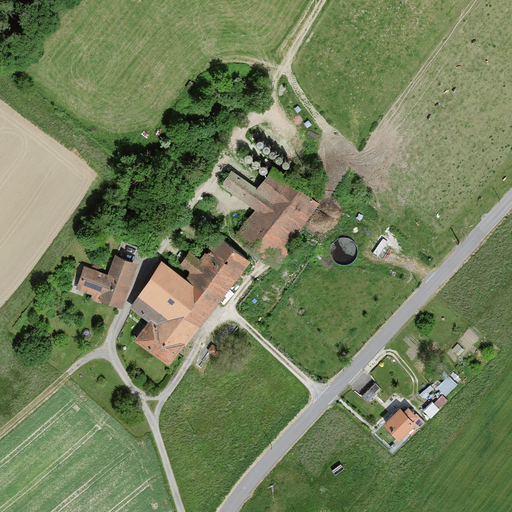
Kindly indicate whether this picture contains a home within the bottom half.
Yes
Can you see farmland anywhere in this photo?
Yes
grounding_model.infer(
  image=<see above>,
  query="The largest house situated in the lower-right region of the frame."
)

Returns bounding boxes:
[384,407,423,442]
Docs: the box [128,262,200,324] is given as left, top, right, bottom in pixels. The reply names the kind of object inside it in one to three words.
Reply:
barn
